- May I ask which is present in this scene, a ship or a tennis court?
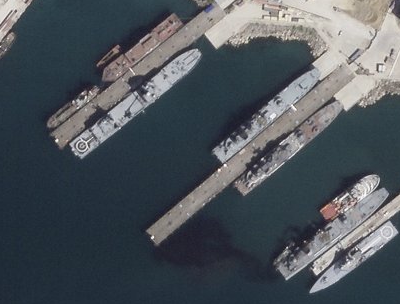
ship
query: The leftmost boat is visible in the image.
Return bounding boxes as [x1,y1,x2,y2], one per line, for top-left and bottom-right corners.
[0,33,15,59]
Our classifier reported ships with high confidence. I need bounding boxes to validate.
[123,11,184,66]
[102,55,134,78]
[213,70,322,163]
[70,49,202,157]
[310,221,398,293]
[276,190,389,277]
[97,45,120,66]
[235,102,344,195]
[48,84,100,125]
[320,176,380,222]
